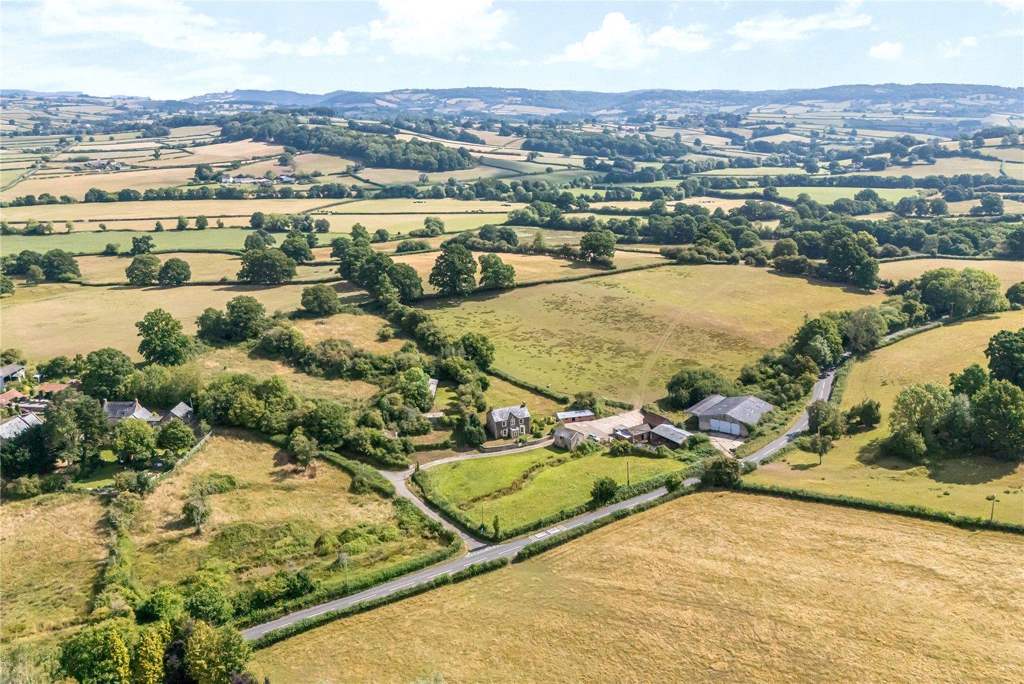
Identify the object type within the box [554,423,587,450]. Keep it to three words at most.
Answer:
barn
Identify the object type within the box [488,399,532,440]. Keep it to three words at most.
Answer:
house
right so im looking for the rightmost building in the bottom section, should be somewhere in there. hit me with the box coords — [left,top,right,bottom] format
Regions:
[681,393,765,439]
